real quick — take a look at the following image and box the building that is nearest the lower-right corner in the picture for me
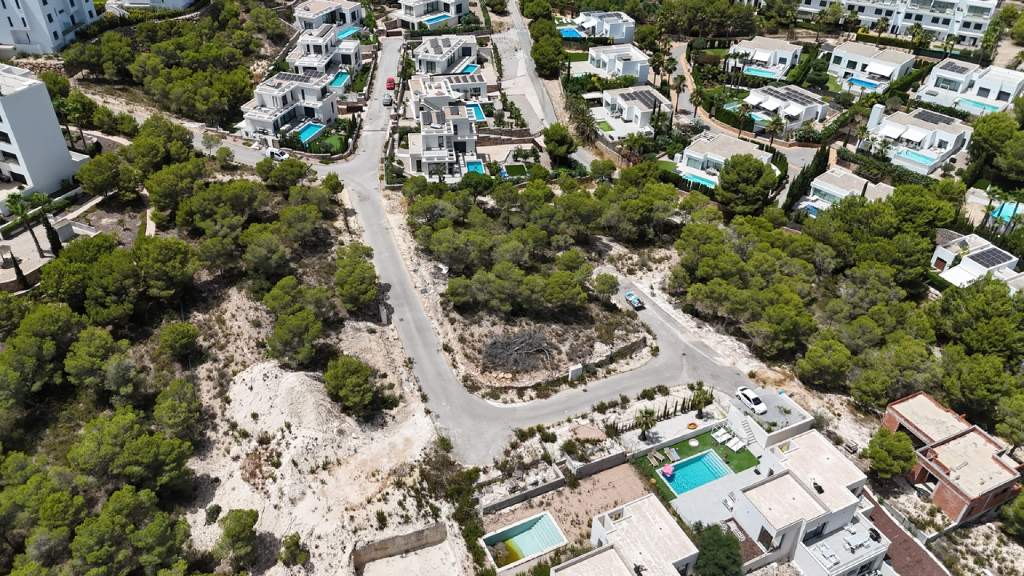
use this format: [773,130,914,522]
[882,391,1024,531]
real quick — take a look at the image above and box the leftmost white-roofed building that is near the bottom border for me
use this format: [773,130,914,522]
[553,494,698,576]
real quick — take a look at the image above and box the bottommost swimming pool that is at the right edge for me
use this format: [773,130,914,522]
[987,202,1024,222]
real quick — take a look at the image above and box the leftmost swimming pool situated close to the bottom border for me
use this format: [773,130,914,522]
[482,511,568,575]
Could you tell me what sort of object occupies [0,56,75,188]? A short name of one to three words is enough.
building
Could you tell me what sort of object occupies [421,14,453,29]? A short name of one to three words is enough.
swimming pool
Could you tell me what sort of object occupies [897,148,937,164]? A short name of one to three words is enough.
swimming pool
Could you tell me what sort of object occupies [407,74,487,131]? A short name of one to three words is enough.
house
